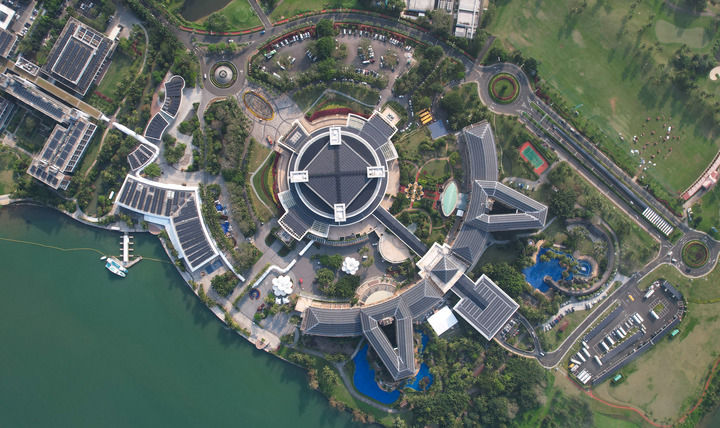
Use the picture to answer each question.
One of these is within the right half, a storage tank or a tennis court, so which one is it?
tennis court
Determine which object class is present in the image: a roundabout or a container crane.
roundabout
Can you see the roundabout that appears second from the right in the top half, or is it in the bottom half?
top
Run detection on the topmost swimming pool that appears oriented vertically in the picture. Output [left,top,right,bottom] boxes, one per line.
[441,180,459,217]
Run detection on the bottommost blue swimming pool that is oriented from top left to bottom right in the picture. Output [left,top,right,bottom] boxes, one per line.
[352,343,401,405]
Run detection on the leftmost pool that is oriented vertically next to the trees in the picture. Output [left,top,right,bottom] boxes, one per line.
[404,331,435,392]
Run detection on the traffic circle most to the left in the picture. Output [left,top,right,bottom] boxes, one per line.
[199,52,247,98]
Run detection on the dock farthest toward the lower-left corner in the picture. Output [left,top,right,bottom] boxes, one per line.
[111,232,143,268]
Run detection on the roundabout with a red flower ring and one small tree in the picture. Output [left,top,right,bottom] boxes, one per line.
[479,63,529,114]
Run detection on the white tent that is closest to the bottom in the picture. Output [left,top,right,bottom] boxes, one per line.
[427,304,458,335]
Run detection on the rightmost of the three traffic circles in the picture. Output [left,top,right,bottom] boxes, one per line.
[673,231,719,277]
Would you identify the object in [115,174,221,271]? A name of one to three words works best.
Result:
building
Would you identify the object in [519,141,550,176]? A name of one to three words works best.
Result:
tennis court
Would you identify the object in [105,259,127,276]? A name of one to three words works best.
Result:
boat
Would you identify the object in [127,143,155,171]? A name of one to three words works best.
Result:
building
